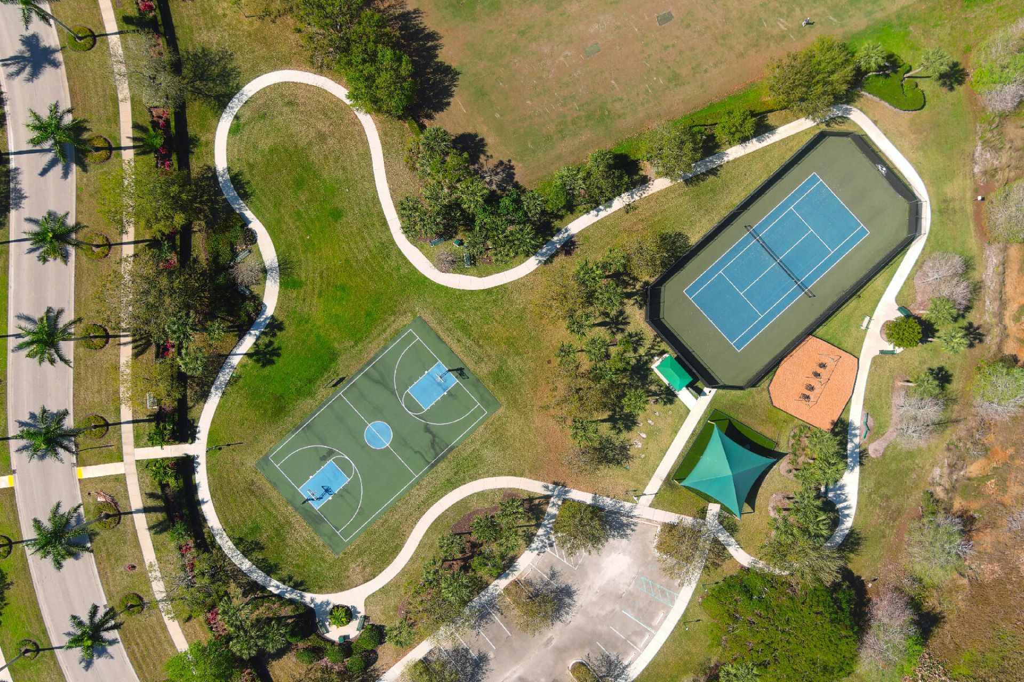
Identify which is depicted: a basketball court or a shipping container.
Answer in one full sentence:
This aerial view contains a basketball court.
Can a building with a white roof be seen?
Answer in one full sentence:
No, there isn't any building with a white roof down there.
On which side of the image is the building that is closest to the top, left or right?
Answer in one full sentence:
It is on the right.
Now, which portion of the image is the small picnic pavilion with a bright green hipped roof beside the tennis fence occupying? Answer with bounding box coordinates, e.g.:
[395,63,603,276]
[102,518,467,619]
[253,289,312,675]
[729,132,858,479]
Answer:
[655,355,692,392]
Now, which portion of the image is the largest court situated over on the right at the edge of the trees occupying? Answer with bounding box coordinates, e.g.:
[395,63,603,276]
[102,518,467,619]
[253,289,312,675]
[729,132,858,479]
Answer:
[644,134,907,390]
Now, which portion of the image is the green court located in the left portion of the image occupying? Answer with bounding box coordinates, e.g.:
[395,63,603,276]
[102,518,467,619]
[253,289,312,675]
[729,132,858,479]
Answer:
[257,317,500,555]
